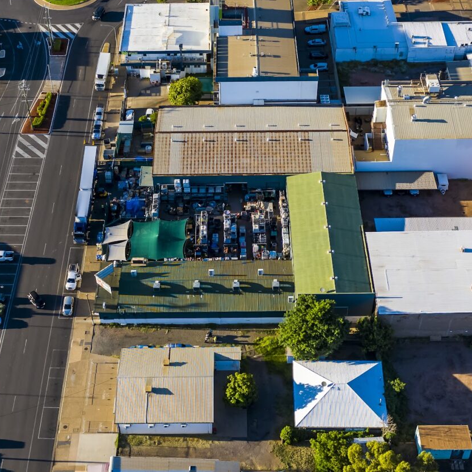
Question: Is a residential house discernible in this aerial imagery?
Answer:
Yes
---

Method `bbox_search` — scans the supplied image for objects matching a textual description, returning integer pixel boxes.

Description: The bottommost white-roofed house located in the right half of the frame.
[294,360,387,435]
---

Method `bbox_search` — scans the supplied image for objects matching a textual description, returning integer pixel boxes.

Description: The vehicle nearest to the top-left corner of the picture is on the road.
[92,4,106,20]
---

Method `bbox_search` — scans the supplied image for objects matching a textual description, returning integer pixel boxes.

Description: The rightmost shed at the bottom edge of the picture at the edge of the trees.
[417,424,472,460]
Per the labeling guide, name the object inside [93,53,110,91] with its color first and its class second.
white vehicle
